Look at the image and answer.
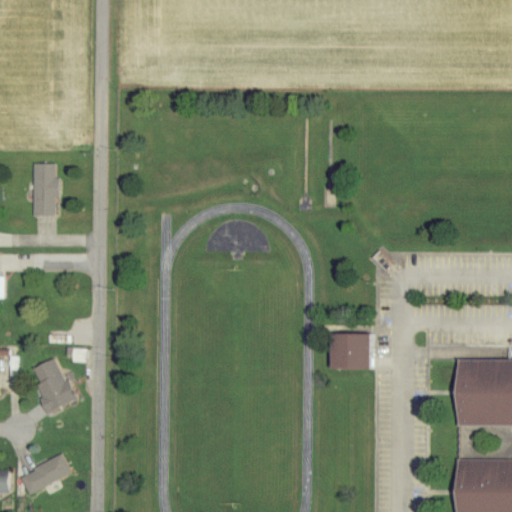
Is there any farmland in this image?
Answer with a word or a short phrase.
Yes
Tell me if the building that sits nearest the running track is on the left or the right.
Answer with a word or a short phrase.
right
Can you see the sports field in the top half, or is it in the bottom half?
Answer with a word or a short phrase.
bottom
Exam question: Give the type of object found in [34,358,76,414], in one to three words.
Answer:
house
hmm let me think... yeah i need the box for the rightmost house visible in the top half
[34,164,58,216]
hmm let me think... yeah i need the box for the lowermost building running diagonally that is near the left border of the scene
[21,454,72,496]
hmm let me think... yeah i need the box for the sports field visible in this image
[182,262,292,512]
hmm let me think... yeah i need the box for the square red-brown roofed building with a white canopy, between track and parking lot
[330,333,374,370]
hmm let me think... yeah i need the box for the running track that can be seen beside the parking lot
[160,203,314,512]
